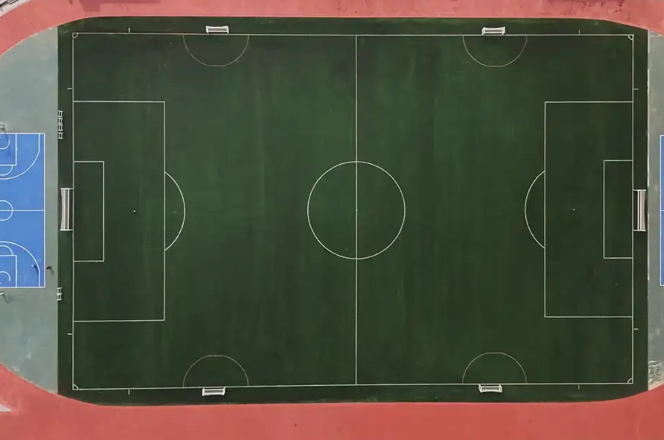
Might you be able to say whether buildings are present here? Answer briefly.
No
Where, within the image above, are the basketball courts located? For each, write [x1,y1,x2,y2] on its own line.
[647,30,664,390]
[0,28,58,392]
